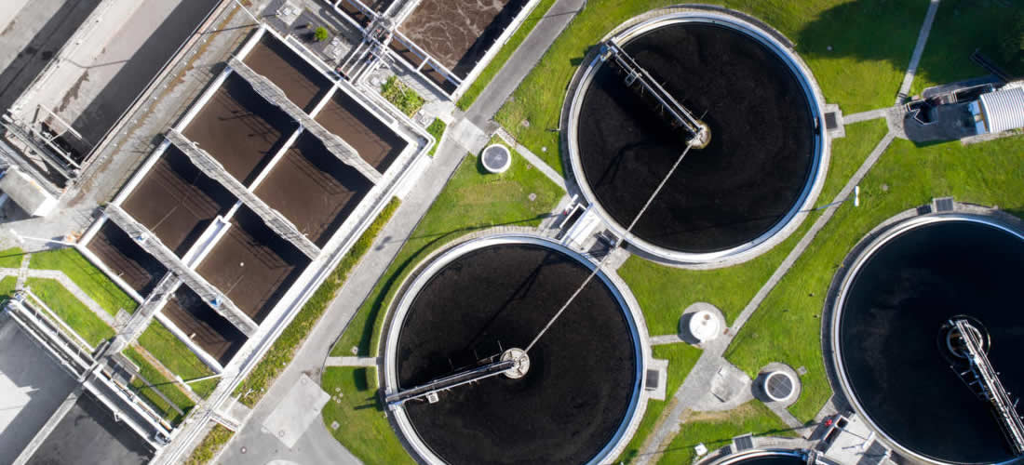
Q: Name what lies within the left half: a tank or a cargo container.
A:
tank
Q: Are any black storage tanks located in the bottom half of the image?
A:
Yes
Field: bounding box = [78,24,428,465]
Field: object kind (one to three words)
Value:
storage tank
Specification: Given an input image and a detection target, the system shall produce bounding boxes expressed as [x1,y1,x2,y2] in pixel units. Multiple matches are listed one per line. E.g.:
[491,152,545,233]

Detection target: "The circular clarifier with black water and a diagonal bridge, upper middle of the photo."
[569,9,825,266]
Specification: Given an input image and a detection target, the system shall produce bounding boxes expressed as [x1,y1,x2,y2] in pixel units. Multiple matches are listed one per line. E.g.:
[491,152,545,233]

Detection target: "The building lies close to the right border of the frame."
[968,86,1024,137]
